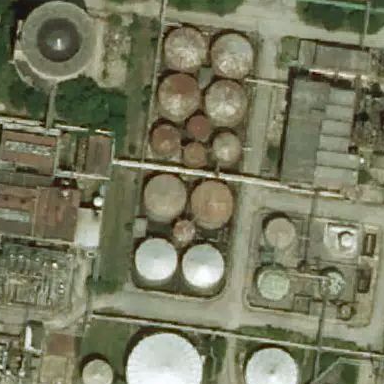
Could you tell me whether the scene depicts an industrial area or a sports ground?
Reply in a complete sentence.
It's an industrial area.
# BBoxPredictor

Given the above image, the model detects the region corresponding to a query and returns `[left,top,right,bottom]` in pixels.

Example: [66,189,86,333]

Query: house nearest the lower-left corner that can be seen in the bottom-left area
[26,324,46,356]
